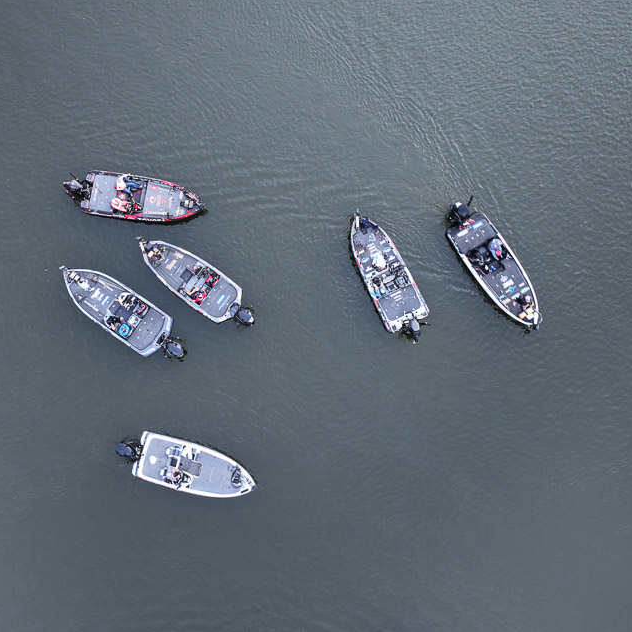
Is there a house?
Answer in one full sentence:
No, I can't see a single house in this photo.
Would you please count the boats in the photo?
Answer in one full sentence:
The number of boats here is 6.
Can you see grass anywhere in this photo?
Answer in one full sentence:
No, the scene doesn't show any grass.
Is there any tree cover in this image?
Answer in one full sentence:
No, tree cover can't be seen anywhere here.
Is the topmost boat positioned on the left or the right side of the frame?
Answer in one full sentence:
You can find the topmost boat on the left side of the picture.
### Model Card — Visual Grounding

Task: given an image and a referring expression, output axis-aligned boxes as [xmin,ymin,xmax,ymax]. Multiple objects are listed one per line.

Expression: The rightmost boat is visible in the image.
[445,194,544,332]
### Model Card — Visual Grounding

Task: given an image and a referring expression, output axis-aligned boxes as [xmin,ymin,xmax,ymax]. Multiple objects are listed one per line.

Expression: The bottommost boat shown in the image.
[115,429,258,496]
